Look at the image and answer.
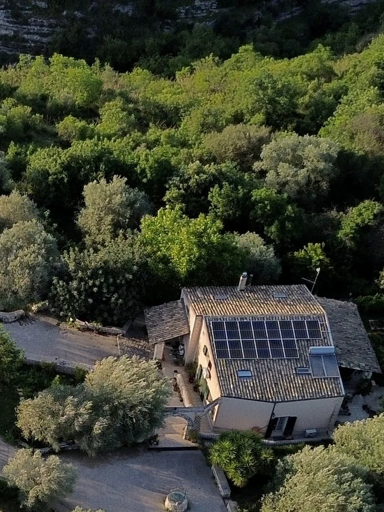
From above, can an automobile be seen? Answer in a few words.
No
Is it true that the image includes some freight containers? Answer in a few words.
No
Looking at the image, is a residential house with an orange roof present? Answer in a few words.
No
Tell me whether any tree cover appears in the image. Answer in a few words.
Yes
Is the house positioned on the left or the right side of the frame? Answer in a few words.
right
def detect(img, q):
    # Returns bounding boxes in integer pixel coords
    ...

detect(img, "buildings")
[143,270,382,439]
